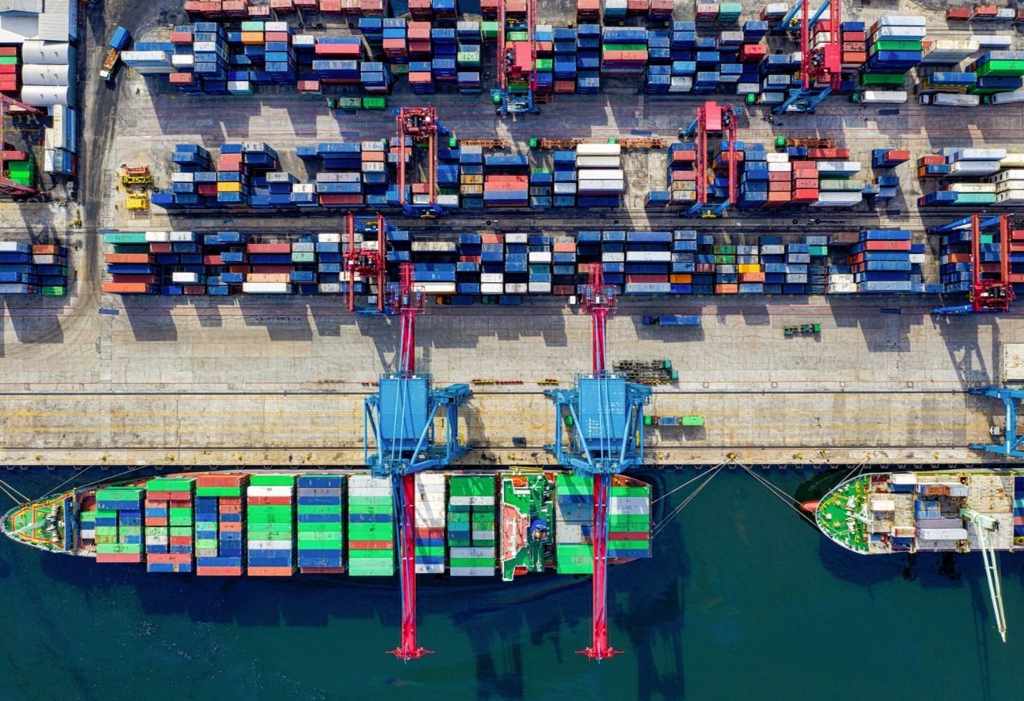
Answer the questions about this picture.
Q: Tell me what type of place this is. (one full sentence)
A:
This looks like a port.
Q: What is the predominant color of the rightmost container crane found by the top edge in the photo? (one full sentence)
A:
In this view, the rightmost container crane found by the top edge is red.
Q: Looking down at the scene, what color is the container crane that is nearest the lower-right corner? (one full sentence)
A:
The container crane that is nearest the lower-right corner is blue.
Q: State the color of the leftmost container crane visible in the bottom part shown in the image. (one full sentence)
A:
The leftmost container crane visible in the bottom part is blue.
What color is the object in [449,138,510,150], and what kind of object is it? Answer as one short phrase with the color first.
green vehicle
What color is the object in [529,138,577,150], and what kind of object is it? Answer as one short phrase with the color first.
green vehicle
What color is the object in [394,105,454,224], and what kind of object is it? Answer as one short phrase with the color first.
red container crane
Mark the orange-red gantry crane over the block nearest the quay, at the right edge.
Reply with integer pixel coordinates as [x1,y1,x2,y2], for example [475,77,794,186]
[923,214,1017,321]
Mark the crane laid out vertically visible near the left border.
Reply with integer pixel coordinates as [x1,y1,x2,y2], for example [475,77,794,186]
[0,90,51,201]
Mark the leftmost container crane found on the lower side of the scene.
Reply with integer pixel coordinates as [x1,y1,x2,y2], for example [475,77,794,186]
[364,263,478,665]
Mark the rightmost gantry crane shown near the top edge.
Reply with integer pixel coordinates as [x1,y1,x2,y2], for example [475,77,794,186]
[768,0,844,114]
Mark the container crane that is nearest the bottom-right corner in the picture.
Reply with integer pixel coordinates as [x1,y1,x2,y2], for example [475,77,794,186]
[969,390,1024,460]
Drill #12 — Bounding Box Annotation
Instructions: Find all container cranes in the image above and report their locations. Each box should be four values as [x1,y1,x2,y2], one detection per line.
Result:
[490,0,542,113]
[673,99,741,225]
[364,263,478,665]
[533,263,648,665]
[923,214,1017,321]
[394,105,454,224]
[969,390,1024,460]
[0,90,51,201]
[341,214,405,319]
[768,0,844,114]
